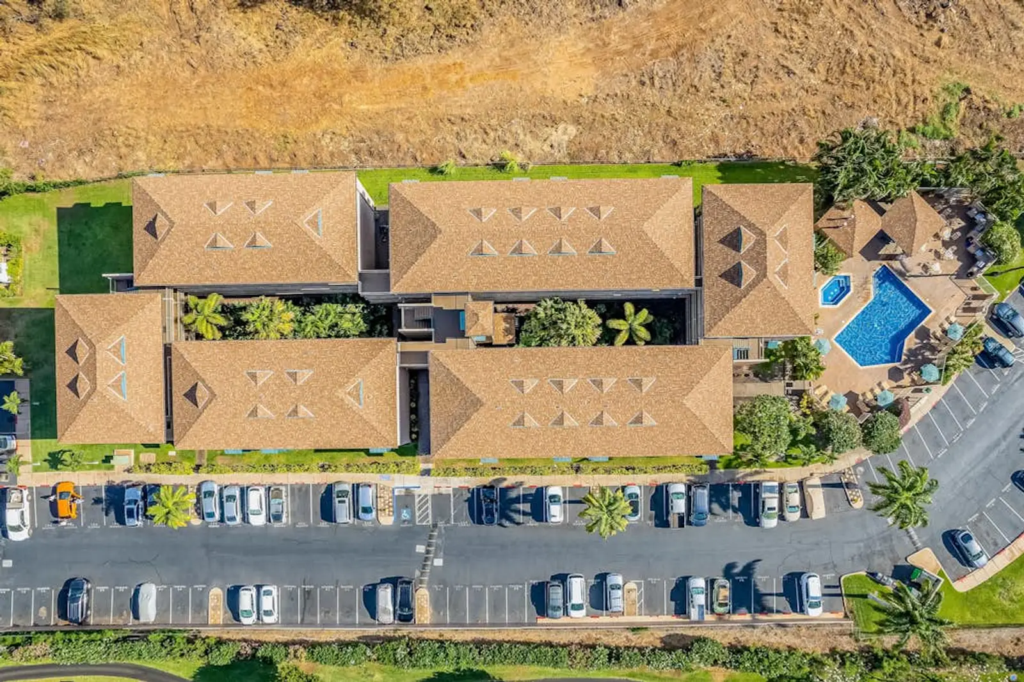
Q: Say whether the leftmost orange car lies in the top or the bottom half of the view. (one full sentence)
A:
Seen from above, the leftmost orange car lies in the bottom half of the view.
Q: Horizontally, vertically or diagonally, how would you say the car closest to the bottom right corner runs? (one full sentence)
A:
From this overhead view, the car closest to the bottom right corner appears to run diagonally.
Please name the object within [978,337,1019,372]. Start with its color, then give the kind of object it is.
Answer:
blue truck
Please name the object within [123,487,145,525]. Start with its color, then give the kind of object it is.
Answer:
blue car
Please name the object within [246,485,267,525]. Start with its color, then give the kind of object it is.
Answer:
white car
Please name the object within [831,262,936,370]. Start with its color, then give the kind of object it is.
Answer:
blue swimming pool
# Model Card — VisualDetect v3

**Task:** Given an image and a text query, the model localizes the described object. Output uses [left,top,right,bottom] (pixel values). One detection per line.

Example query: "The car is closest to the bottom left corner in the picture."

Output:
[67,576,94,622]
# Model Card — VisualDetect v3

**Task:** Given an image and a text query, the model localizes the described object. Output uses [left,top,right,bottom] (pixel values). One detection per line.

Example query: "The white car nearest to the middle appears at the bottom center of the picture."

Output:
[544,485,564,522]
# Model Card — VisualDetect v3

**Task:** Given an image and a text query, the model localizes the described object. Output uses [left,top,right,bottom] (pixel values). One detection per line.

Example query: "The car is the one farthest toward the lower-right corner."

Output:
[949,525,987,569]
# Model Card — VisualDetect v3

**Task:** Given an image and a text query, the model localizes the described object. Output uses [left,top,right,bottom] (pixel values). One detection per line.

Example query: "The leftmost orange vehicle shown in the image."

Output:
[48,481,90,519]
